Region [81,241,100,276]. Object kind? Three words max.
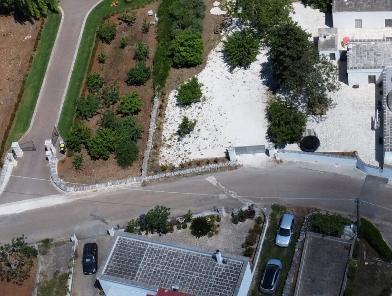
car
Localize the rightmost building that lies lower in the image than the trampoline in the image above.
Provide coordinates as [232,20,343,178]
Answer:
[292,234,350,296]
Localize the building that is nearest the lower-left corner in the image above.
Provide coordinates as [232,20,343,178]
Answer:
[99,233,248,296]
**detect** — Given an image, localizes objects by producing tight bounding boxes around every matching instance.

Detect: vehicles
[260,260,283,295]
[276,213,296,248]
[81,241,100,276]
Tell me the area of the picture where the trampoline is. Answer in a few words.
right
